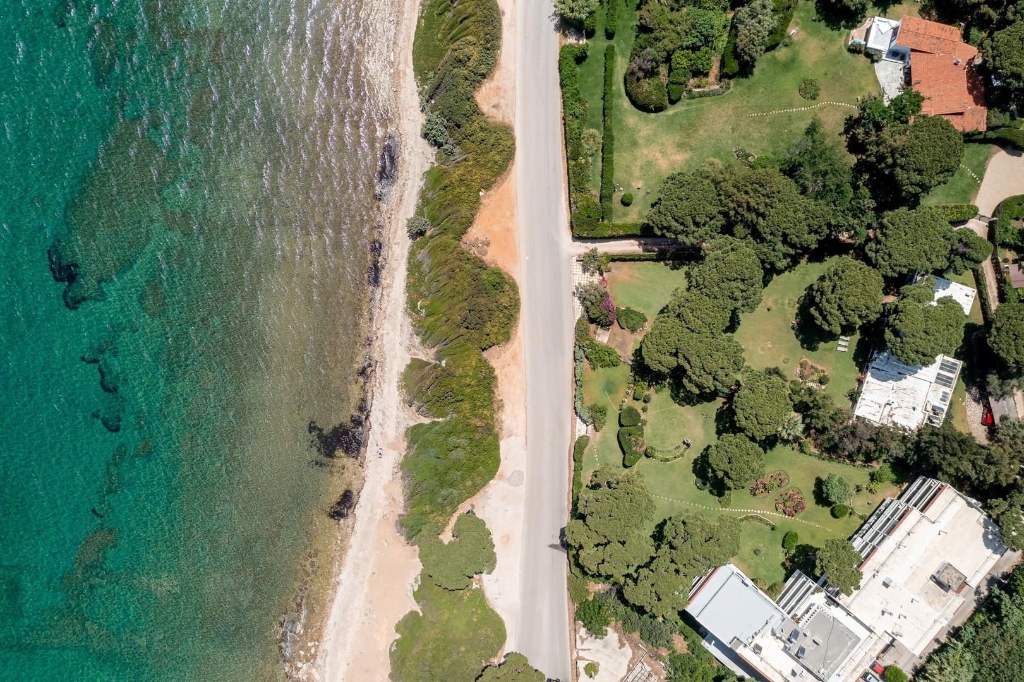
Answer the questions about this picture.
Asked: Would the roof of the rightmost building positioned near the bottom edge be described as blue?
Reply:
No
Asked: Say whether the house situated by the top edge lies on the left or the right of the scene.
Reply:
right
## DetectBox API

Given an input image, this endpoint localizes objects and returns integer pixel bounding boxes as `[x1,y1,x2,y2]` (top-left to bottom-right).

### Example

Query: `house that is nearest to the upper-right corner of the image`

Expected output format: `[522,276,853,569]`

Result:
[863,15,987,133]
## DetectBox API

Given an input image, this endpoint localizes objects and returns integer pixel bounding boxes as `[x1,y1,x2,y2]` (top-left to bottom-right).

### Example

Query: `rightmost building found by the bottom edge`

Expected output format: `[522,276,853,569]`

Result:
[831,475,1006,658]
